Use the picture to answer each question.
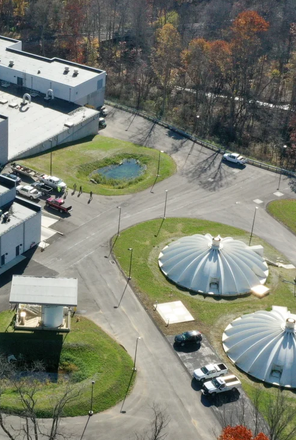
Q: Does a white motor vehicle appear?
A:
Yes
